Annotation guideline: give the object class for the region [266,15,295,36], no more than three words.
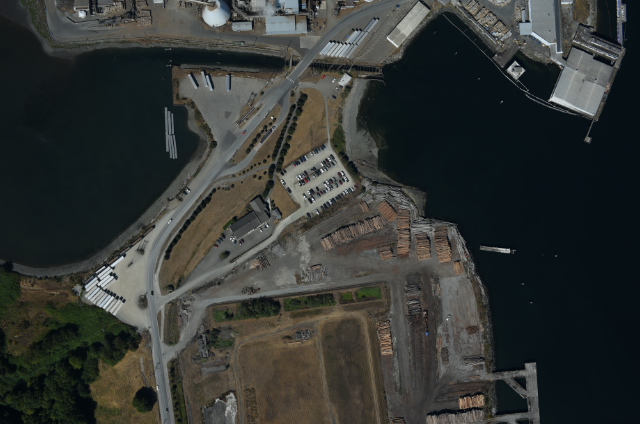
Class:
shed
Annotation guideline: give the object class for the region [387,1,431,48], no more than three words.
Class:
building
